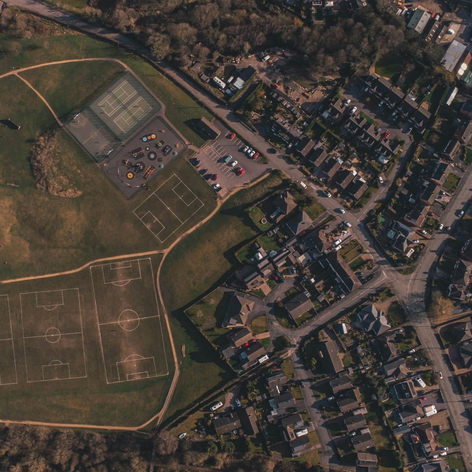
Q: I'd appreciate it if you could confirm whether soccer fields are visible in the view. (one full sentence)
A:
Yes, a soccer field appears in the view.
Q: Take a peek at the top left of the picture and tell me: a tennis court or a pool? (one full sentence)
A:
What appears at the top left of the picture is a tennis court.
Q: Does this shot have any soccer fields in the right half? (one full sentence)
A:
No, looking in the right half, there is no soccer field.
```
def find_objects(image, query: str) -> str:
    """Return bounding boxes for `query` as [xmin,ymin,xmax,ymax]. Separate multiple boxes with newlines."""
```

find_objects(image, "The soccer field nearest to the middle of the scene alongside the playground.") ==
[133,174,204,243]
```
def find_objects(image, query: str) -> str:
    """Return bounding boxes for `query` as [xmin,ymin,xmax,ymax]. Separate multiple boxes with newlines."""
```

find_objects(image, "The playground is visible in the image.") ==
[101,116,187,199]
